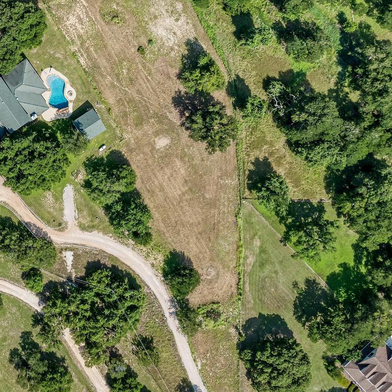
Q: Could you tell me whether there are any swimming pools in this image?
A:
Yes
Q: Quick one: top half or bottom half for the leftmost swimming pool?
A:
top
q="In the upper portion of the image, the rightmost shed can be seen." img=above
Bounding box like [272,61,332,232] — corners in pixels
[73,108,106,142]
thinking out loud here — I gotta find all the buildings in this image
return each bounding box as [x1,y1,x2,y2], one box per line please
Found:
[73,108,106,142]
[343,342,392,392]
[0,57,50,139]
